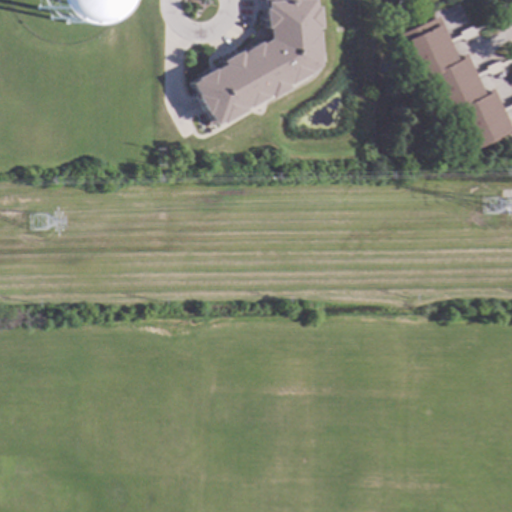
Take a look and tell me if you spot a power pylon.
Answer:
Yes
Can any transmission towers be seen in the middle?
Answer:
No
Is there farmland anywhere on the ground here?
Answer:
Yes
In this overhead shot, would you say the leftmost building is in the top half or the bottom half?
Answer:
top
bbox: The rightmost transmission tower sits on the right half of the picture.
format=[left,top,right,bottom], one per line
[483,194,512,216]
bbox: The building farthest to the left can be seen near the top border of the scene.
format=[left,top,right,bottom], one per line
[190,0,328,122]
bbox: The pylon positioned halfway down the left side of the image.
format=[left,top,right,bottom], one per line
[30,206,66,237]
